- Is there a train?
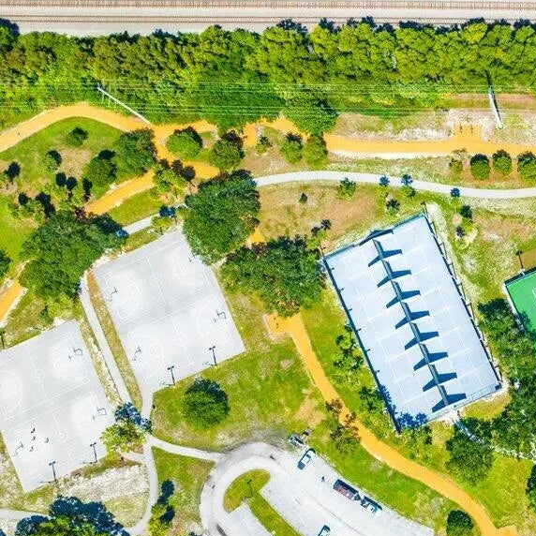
No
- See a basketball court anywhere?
Yes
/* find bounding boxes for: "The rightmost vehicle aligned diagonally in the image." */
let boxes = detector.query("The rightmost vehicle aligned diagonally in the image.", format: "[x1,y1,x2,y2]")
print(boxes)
[362,496,383,514]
